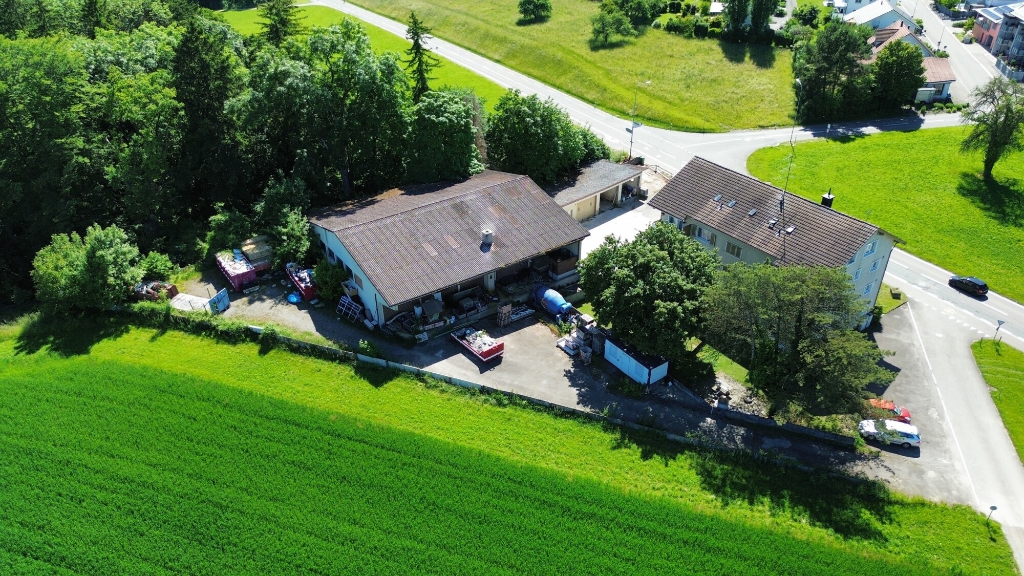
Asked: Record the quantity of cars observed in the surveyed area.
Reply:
3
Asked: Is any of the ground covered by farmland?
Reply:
Yes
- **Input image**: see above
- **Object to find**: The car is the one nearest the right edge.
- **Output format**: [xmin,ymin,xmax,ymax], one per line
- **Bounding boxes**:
[946,271,995,295]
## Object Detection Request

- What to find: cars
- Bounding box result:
[860,415,922,447]
[862,400,915,422]
[946,271,995,295]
